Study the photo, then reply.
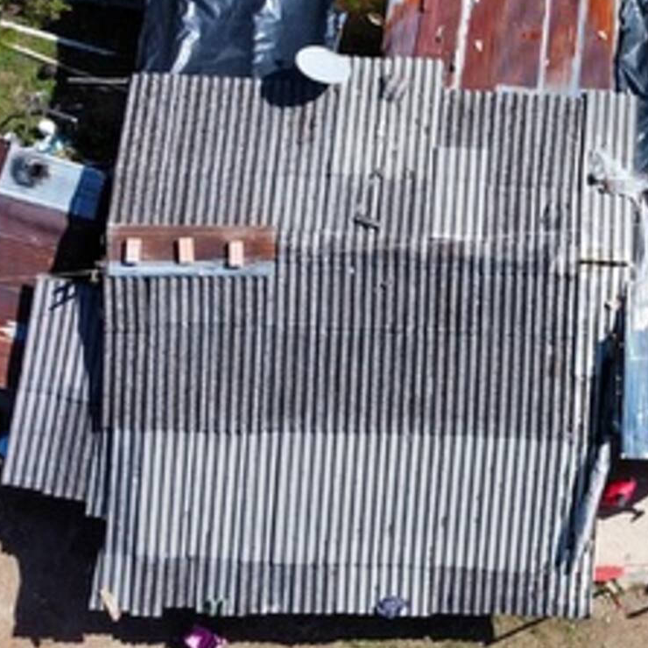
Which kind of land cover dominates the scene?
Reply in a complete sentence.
What you mostly see from above here is buildings.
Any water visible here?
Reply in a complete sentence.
No, the picture contains no water.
